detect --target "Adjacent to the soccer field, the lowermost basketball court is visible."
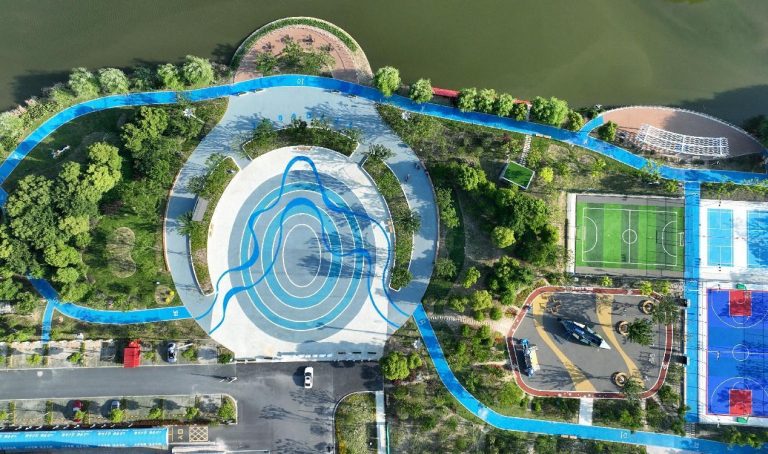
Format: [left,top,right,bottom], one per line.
[705,289,768,416]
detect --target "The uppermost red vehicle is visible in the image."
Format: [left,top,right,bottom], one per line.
[124,341,140,371]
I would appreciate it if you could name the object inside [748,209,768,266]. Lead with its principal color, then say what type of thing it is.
blue sports court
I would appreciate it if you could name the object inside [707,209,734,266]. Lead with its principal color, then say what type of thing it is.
blue sports court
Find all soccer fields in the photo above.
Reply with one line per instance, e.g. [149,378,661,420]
[577,203,685,269]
